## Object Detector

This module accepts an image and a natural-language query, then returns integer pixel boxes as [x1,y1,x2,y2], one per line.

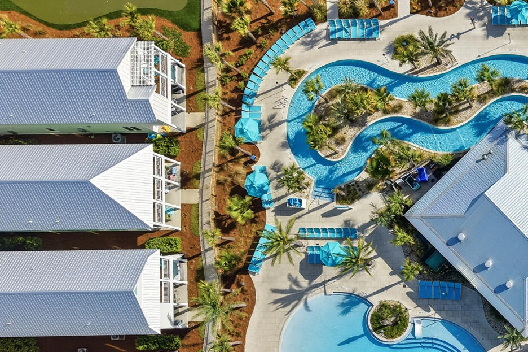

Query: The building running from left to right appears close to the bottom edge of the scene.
[0,250,191,335]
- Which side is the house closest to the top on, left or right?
left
